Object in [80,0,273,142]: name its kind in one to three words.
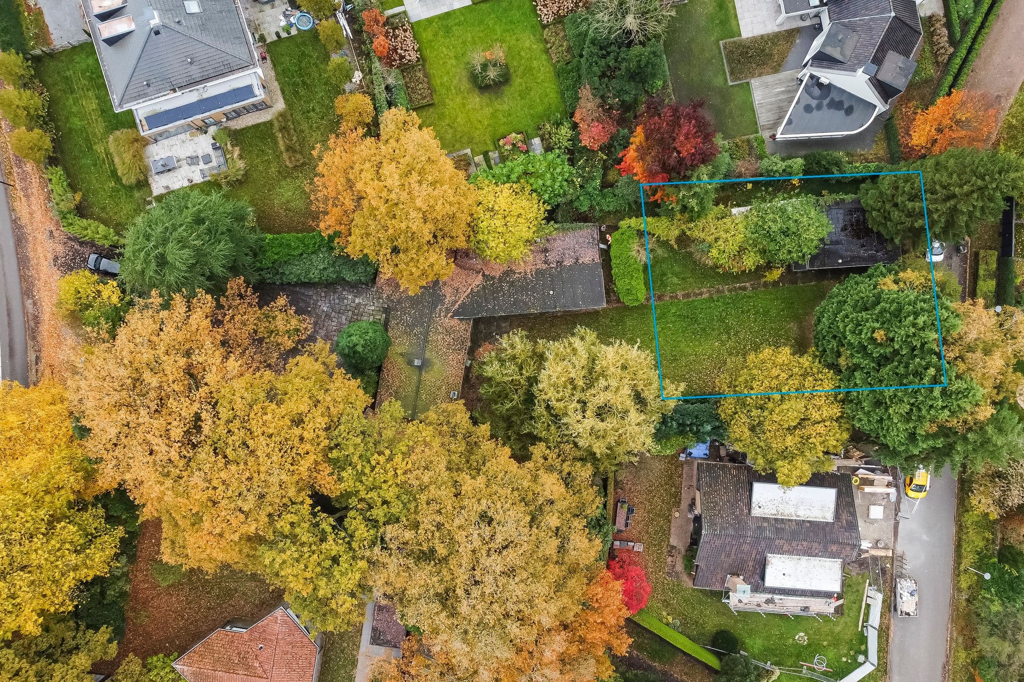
house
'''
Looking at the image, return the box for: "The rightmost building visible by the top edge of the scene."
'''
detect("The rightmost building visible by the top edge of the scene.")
[771,0,924,144]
